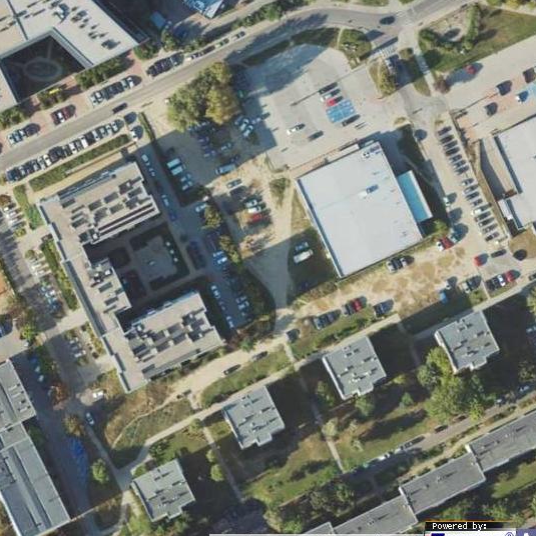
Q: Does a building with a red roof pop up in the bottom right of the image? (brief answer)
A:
No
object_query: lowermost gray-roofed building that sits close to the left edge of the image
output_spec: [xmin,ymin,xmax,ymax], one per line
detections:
[0,437,72,536]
